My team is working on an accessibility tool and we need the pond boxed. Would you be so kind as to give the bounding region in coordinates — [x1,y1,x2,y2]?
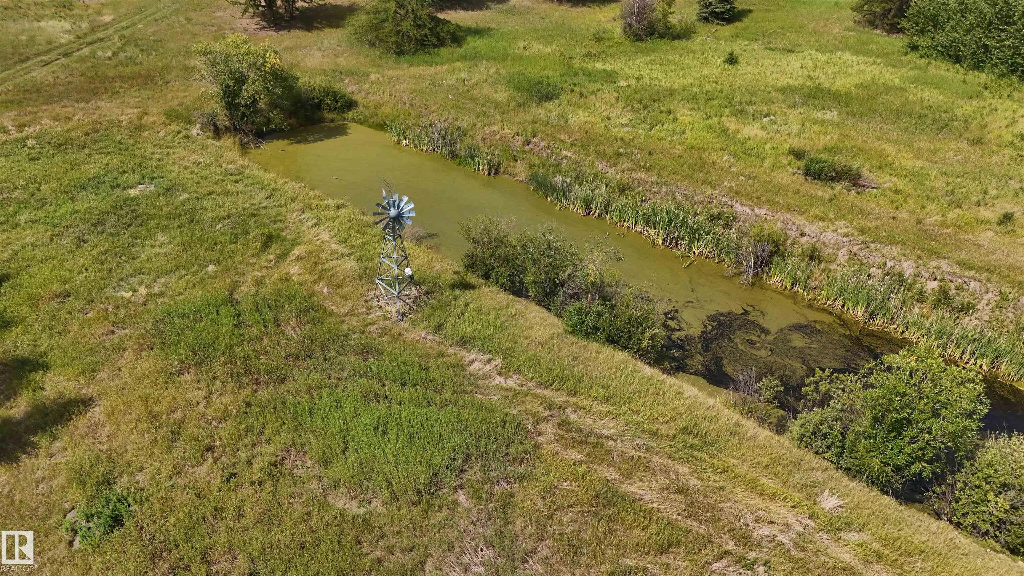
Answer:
[251,122,1024,549]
